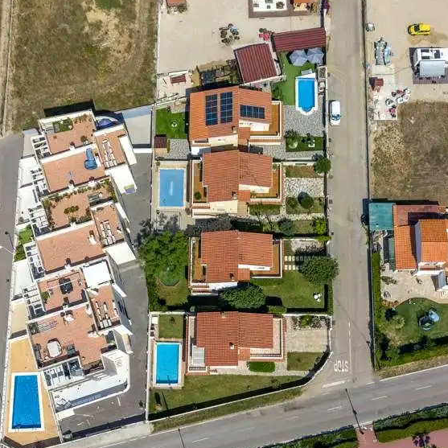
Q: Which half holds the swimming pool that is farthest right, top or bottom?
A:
top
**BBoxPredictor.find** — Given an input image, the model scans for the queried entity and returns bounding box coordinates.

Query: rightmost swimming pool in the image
[296,77,318,116]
